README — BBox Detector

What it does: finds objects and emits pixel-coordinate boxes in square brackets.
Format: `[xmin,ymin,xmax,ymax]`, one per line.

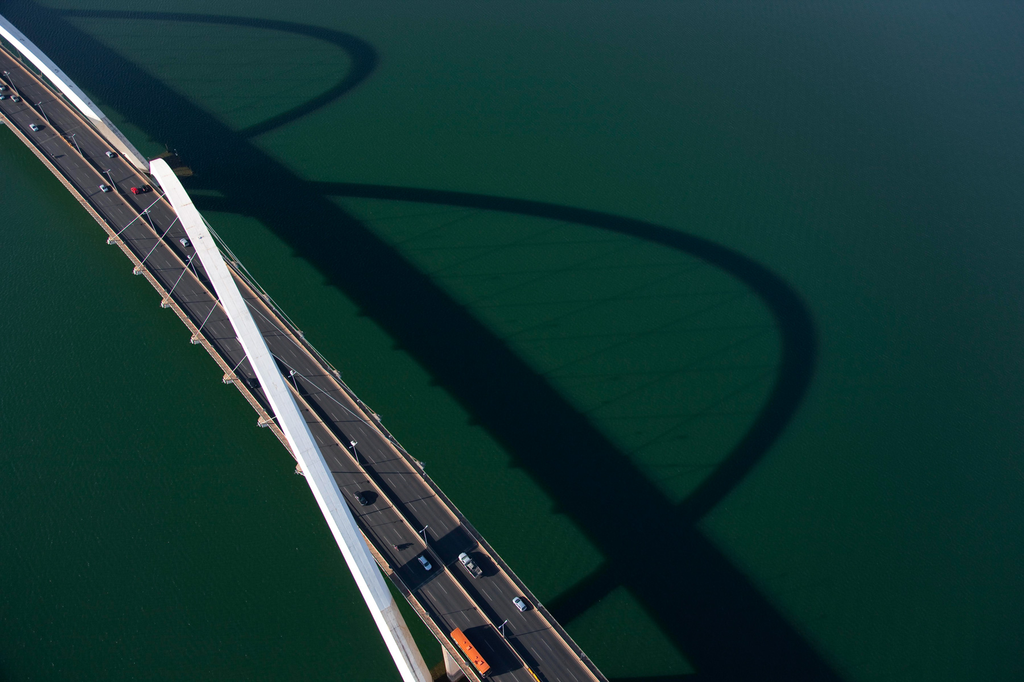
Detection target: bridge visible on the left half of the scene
[0,15,610,682]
